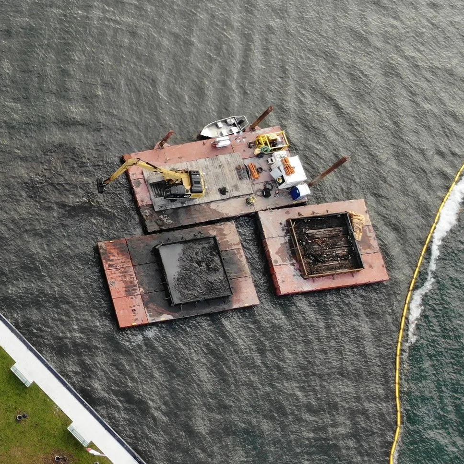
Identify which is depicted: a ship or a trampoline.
ship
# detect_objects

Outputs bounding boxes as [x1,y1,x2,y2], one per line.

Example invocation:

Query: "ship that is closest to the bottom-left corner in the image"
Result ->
[95,223,259,330]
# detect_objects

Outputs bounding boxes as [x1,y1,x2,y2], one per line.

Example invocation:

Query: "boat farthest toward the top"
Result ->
[198,115,245,139]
